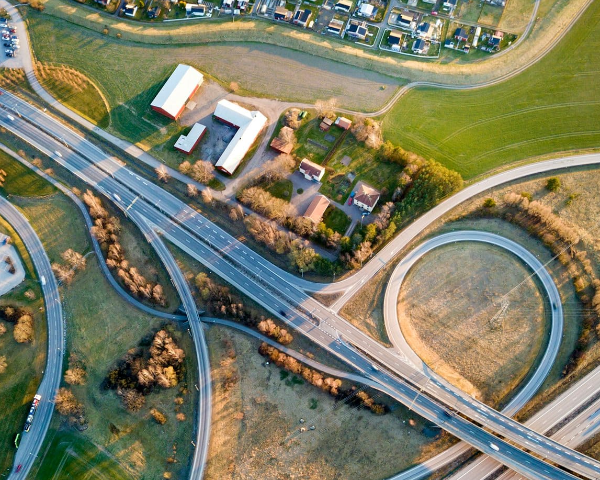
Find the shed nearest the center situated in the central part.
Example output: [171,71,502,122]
[304,194,329,220]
